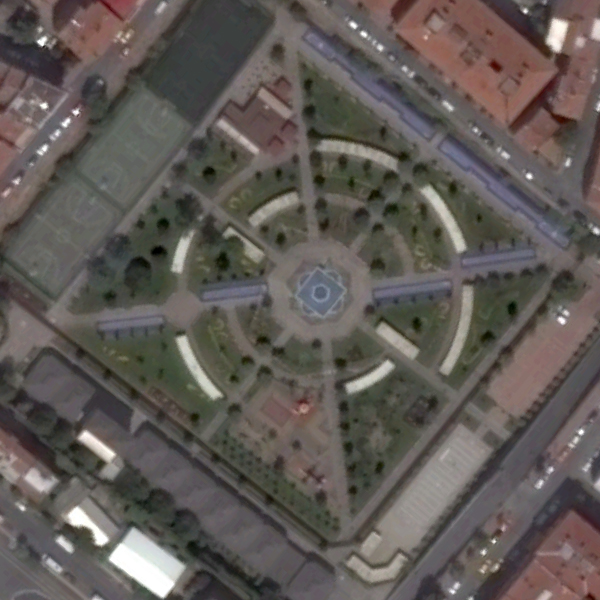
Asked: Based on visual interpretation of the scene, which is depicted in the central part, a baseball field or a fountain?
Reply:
fountain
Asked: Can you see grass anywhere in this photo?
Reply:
Yes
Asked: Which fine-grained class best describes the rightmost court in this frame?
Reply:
basketball court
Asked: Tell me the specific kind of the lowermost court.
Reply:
basketball court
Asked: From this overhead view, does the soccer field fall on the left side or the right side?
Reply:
left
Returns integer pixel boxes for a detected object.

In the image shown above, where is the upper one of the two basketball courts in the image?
[74,84,192,212]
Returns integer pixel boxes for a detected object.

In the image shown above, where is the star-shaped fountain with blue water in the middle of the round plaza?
[296,268,346,318]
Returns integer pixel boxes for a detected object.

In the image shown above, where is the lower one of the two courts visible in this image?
[4,176,121,298]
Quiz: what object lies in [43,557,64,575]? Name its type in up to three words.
vehicle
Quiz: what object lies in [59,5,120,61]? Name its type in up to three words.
building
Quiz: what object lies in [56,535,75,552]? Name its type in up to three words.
vehicle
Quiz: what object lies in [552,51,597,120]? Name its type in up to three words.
house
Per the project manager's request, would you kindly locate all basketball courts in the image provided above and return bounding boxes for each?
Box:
[74,84,192,212]
[4,176,121,298]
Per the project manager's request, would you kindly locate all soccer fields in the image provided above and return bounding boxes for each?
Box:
[140,0,272,122]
